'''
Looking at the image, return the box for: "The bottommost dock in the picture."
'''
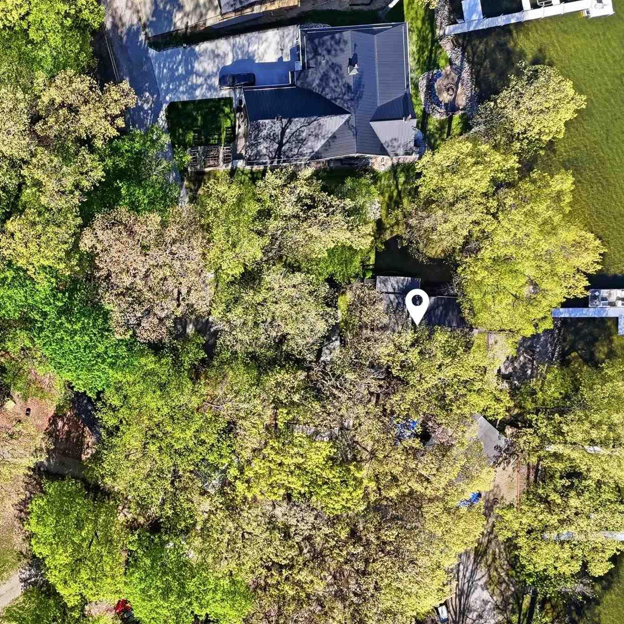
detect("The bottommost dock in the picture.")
[545,529,624,542]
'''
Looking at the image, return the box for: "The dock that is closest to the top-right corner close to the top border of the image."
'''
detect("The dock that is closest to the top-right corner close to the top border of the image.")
[446,0,617,35]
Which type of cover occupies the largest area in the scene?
trees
